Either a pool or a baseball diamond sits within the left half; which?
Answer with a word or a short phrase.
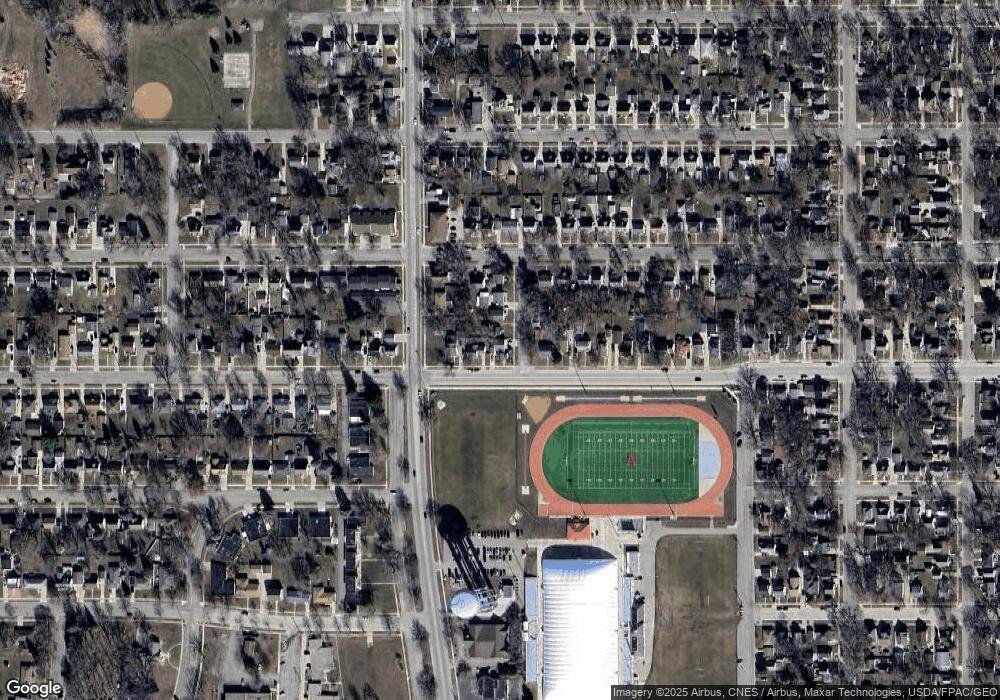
baseball diamond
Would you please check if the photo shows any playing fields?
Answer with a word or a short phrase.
Yes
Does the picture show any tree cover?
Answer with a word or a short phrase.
Yes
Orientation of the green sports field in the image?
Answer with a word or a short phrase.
from left to right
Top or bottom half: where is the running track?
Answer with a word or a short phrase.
bottom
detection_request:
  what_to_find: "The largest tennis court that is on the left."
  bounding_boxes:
[225,53,250,88]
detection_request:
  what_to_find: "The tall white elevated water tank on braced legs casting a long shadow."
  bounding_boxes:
[450,583,501,621]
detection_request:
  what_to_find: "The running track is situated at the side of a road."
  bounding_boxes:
[527,404,734,516]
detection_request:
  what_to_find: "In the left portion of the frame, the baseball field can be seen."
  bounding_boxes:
[129,38,216,125]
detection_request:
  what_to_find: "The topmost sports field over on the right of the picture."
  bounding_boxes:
[542,419,720,499]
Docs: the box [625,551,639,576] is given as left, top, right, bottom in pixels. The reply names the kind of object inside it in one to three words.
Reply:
building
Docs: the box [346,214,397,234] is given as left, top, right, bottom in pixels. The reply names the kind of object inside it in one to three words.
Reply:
building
